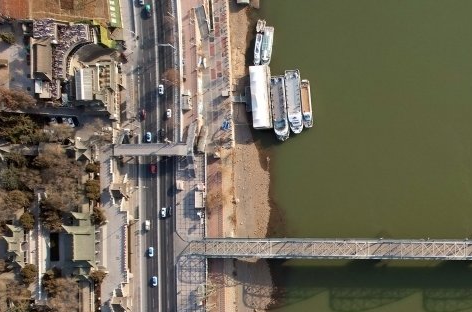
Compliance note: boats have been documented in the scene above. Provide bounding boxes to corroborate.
[300,80,313,127]
[270,74,289,141]
[254,33,262,65]
[260,26,272,65]
[284,69,302,133]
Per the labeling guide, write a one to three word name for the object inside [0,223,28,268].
building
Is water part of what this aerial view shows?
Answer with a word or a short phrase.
Yes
